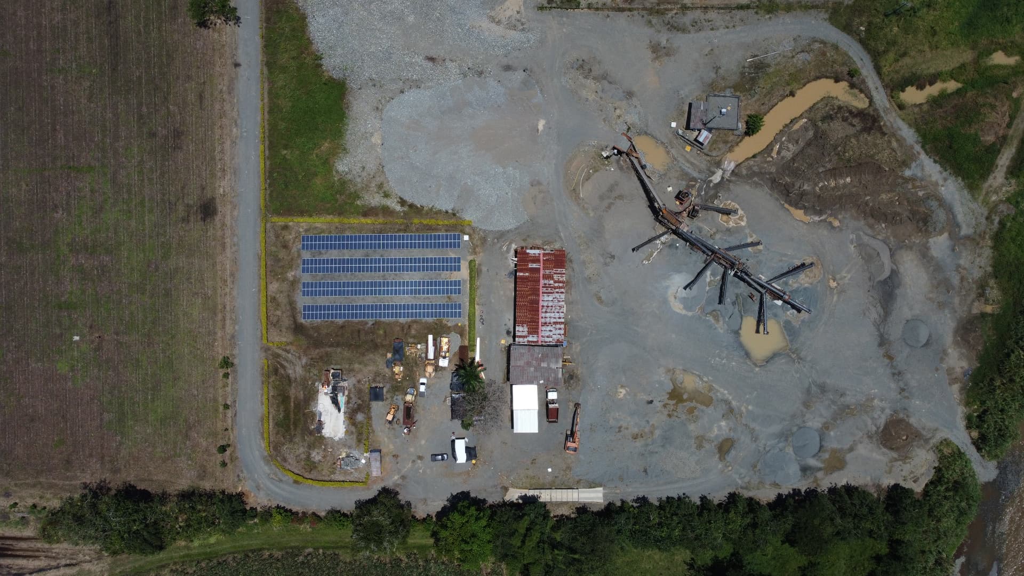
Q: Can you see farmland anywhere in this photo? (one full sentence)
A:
Yes, there's farmland in this view.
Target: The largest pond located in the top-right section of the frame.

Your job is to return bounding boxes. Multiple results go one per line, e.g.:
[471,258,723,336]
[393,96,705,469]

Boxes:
[723,79,868,165]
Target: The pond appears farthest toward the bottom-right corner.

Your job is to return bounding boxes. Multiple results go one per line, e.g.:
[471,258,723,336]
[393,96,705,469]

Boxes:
[739,317,789,364]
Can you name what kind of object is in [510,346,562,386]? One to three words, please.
shed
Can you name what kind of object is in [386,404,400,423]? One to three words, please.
work vehicle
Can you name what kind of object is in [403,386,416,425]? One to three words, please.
vehicle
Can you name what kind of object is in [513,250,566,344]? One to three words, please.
shed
